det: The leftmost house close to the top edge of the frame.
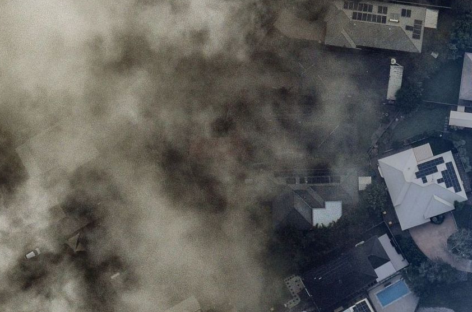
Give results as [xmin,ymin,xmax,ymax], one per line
[325,0,426,53]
